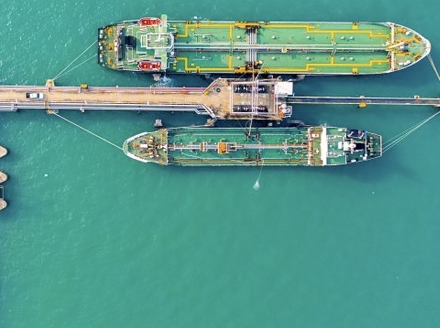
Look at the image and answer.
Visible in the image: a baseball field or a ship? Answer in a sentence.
Visible in the photo is a ship.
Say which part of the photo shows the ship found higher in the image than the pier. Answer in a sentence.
The ship found higher in the image than the pier is in the top part of the image.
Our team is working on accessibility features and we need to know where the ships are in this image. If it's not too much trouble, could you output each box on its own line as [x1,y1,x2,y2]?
[124,127,381,166]
[98,14,431,76]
